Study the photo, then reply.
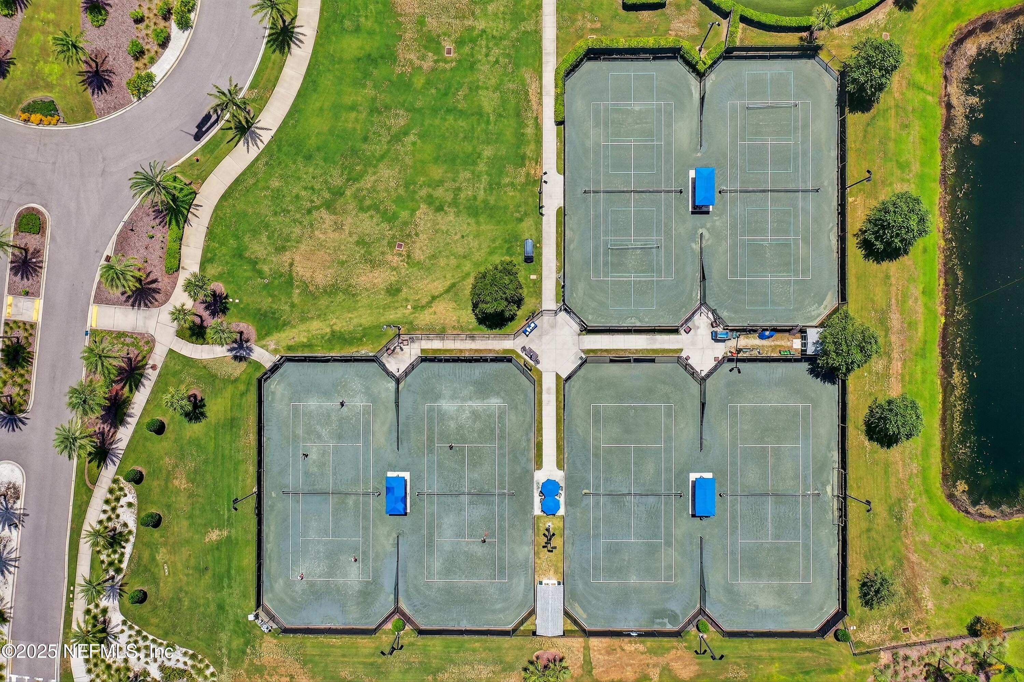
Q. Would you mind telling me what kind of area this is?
sports ground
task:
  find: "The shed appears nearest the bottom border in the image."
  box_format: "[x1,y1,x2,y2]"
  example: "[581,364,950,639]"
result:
[536,581,563,636]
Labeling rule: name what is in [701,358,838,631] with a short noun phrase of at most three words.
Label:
tennis court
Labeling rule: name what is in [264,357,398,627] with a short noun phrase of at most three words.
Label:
tennis court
